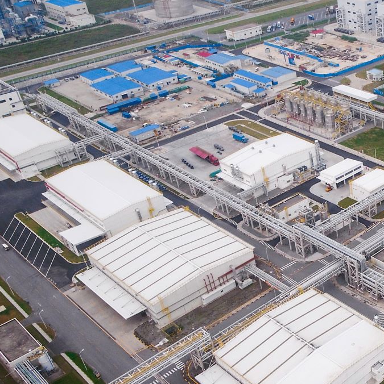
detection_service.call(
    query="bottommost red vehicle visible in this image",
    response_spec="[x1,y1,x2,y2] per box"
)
[190,145,213,161]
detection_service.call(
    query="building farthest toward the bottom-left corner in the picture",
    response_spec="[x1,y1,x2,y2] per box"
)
[0,318,46,371]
